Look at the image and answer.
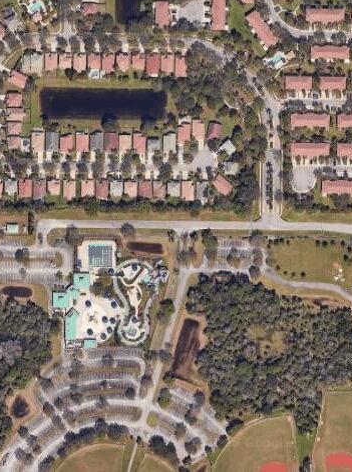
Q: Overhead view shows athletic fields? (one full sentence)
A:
Yes, an athletic field is visible in the scene.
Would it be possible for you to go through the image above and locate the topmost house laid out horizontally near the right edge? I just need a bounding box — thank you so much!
[305,5,344,21]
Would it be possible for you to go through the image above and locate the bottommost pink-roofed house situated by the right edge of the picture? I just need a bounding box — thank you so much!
[322,179,352,196]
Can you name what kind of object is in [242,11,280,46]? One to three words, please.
house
